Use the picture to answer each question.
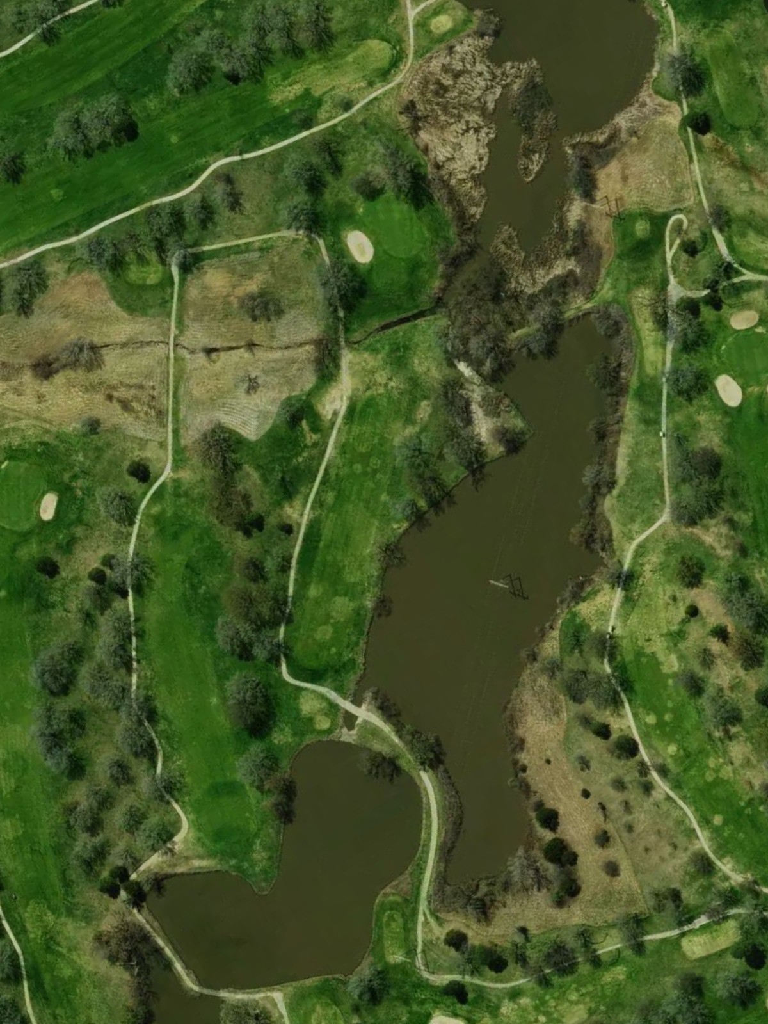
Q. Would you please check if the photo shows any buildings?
No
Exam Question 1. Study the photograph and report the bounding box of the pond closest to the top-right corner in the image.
[438,0,671,308]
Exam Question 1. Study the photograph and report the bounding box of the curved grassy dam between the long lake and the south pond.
[358,717,456,915]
